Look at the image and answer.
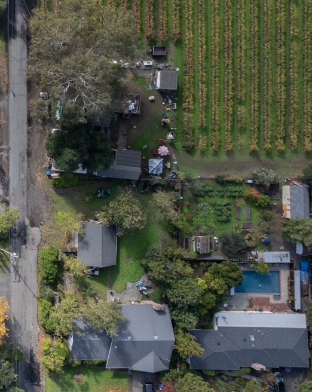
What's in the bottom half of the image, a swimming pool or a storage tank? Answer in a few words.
swimming pool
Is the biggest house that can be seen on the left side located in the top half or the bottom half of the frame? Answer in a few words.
bottom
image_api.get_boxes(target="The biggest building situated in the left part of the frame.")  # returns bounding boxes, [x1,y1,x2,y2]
[67,303,175,373]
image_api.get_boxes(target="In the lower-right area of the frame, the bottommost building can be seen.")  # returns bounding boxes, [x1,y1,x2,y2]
[186,311,309,372]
